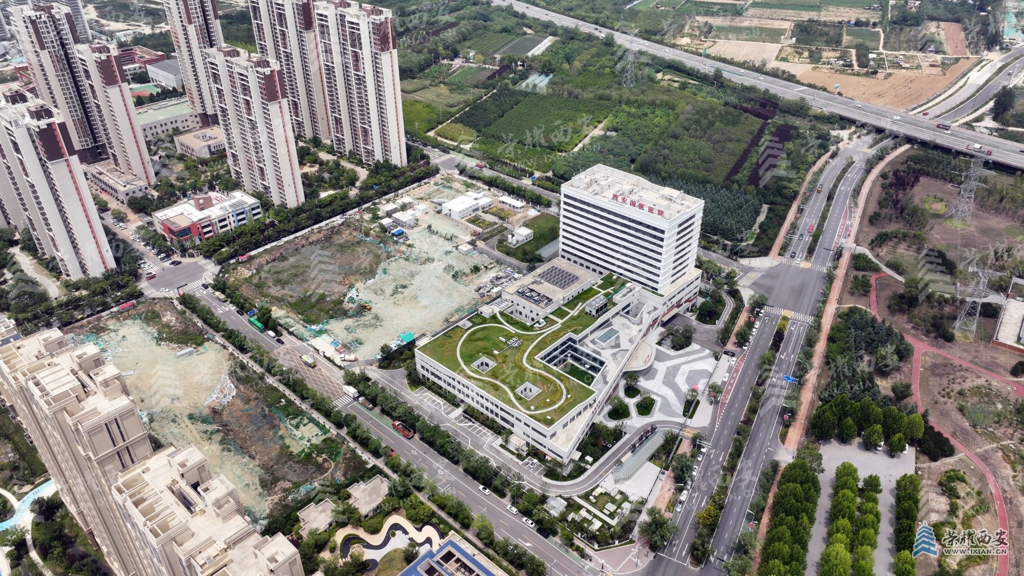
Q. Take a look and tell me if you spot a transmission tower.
Yes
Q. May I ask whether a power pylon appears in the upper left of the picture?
No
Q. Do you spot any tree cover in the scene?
Yes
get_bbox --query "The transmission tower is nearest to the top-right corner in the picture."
[954,150,1004,231]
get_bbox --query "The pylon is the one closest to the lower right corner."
[958,269,1001,340]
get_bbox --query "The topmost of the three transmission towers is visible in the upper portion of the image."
[624,30,637,80]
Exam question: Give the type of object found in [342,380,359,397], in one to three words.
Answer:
vehicle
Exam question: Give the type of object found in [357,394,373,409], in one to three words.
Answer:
vehicle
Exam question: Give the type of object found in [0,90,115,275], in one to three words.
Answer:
building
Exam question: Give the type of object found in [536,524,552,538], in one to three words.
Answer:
car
